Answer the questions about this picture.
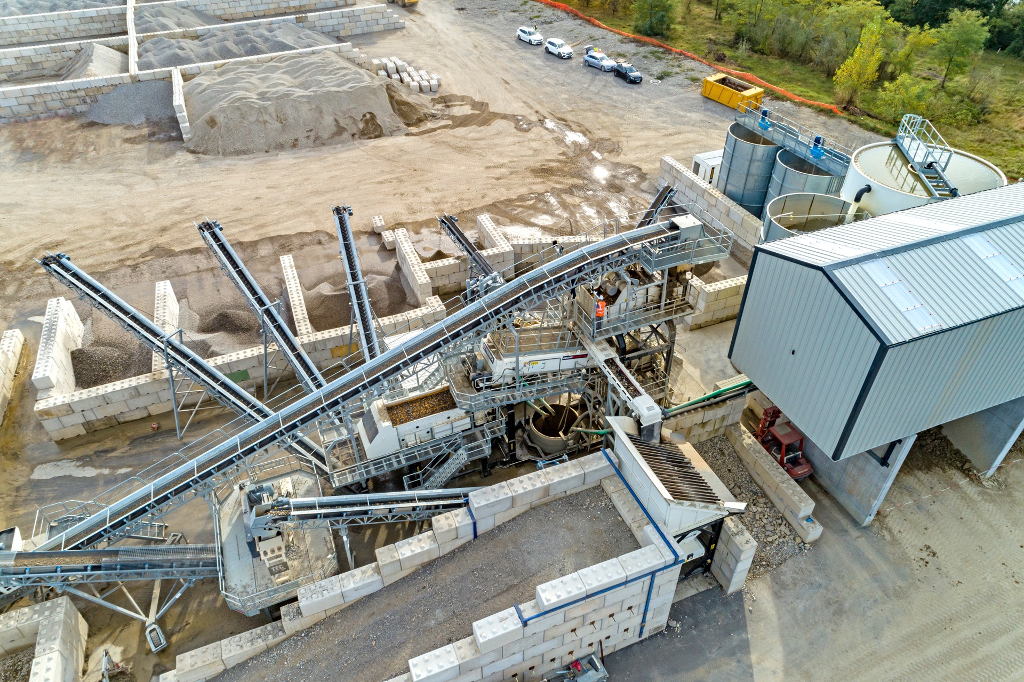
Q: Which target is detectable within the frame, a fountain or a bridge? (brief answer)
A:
bridge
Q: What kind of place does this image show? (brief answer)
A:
industrial area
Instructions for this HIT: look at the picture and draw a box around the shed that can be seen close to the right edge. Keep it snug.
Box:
[727,183,1024,527]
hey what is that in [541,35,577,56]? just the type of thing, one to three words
car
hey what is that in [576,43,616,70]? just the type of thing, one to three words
car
